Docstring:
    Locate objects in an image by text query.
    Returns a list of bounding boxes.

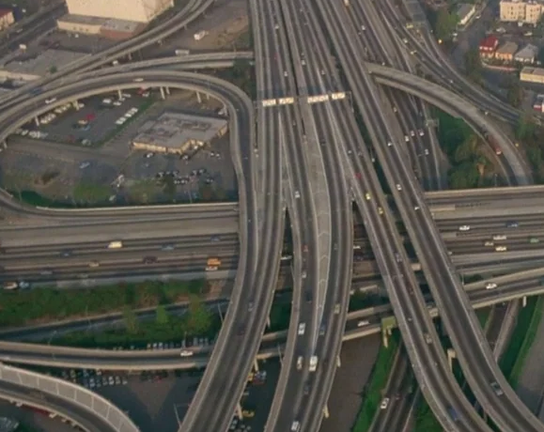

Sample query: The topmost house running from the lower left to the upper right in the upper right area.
[446,2,482,31]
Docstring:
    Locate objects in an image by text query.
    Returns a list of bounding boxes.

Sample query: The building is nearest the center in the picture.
[134,113,227,151]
